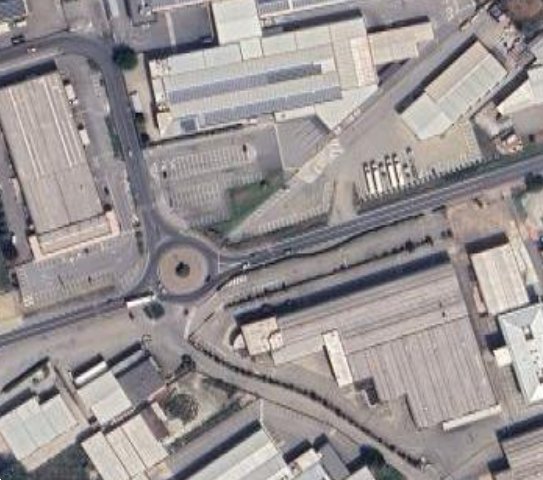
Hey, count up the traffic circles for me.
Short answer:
1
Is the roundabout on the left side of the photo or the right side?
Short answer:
left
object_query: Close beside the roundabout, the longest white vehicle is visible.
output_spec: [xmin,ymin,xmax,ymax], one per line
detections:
[126,293,155,306]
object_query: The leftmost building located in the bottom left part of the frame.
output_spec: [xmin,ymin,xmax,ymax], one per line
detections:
[0,395,81,471]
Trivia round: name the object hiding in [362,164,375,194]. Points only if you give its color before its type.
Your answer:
white vehicle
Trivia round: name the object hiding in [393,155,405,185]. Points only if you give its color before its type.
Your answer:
white vehicle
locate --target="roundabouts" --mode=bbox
[149,237,218,305]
